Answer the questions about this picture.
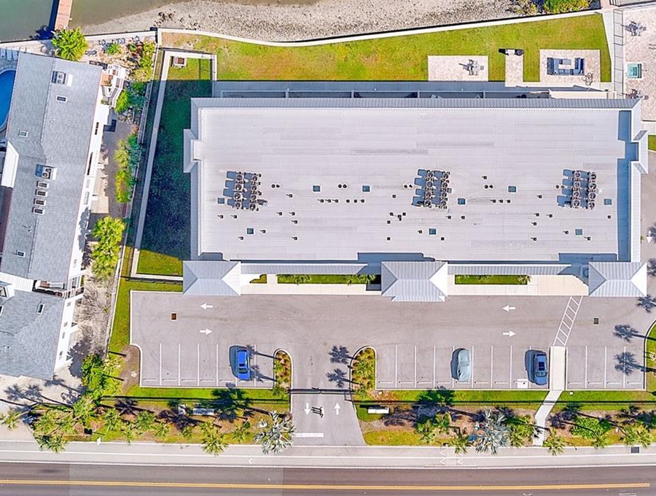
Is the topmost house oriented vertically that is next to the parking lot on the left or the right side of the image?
left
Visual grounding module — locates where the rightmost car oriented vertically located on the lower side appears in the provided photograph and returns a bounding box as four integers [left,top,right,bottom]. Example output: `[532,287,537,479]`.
[533,349,549,384]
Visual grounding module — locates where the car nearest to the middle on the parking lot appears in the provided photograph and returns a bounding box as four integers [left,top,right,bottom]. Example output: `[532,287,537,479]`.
[236,349,251,380]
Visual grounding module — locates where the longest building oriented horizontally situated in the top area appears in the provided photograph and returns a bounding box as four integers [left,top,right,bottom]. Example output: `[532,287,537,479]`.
[183,90,649,301]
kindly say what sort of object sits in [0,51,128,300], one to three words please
house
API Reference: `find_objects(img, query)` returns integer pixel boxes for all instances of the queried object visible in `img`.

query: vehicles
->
[456,348,470,382]
[236,349,251,380]
[533,349,549,384]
